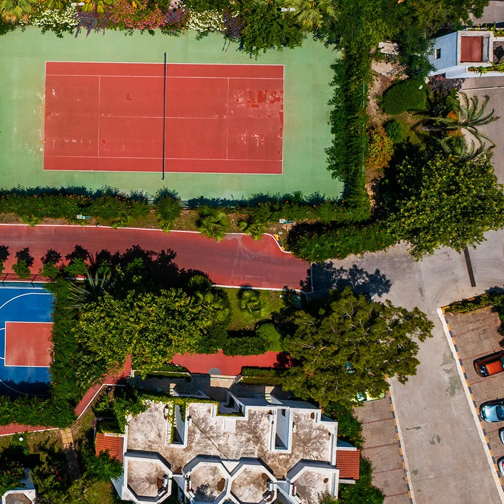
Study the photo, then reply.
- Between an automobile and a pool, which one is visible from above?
automobile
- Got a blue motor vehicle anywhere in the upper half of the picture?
No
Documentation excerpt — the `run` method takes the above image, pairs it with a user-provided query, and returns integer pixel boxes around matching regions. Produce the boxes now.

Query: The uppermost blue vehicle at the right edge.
[482,403,504,425]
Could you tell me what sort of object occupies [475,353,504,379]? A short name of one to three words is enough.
car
